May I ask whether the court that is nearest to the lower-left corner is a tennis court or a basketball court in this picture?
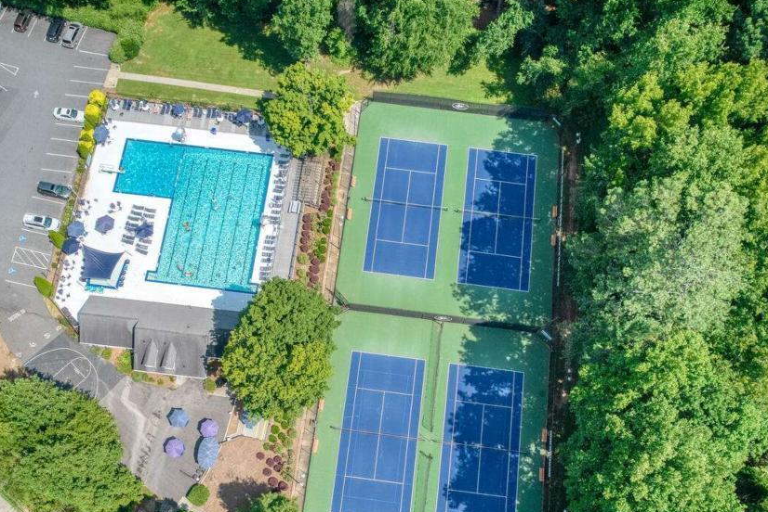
basketball court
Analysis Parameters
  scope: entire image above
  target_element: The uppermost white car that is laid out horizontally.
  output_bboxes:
[53,108,85,123]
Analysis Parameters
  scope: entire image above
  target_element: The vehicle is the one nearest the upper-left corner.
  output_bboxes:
[13,8,34,33]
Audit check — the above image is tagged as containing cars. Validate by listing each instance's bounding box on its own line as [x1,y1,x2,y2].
[13,8,34,33]
[25,214,58,231]
[53,108,85,123]
[46,17,66,42]
[62,22,82,47]
[38,182,71,199]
